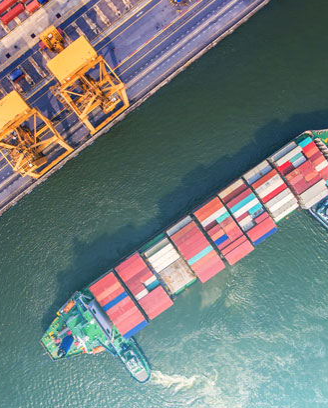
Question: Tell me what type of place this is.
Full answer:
This looks like a port.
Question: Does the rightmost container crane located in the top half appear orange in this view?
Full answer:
Yes, the rightmost container crane located in the top half appears orange.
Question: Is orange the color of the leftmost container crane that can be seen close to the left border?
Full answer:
Yes, orange is the color of the leftmost container crane that can be seen close to the left border.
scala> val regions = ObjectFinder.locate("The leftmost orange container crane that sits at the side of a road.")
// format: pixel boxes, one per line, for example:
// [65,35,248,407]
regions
[0,88,84,189]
